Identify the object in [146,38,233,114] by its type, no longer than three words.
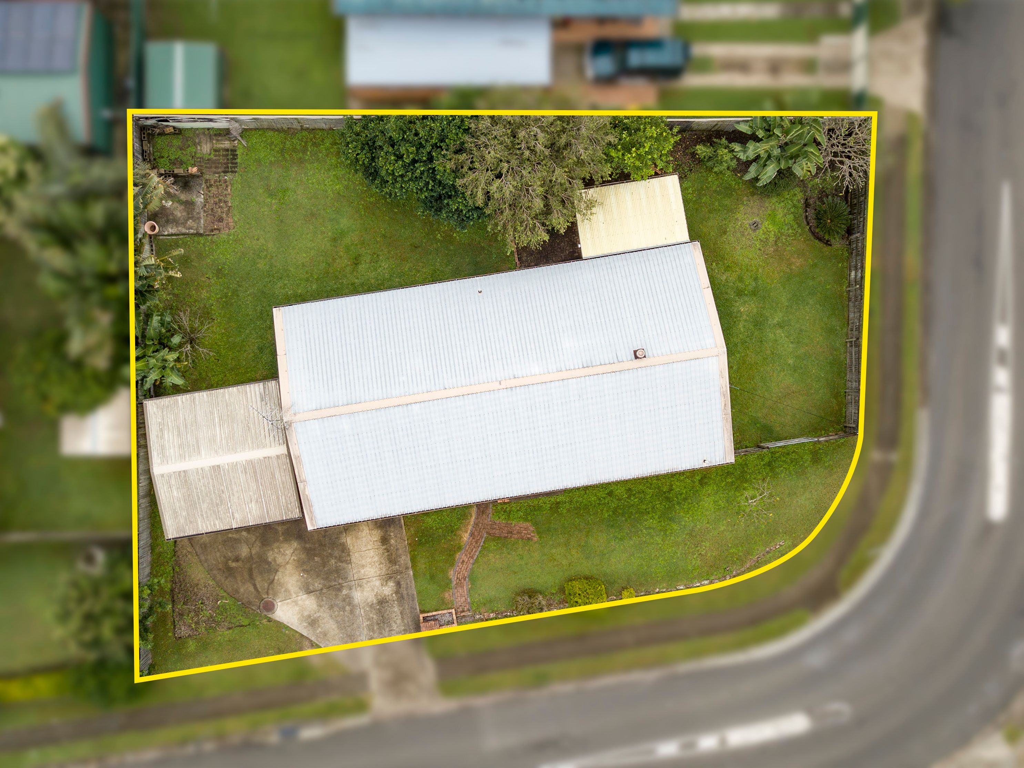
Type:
shed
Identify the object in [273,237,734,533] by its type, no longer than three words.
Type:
house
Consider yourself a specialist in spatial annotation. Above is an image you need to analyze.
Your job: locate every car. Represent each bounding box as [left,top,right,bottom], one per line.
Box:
[584,28,690,79]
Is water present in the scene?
No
